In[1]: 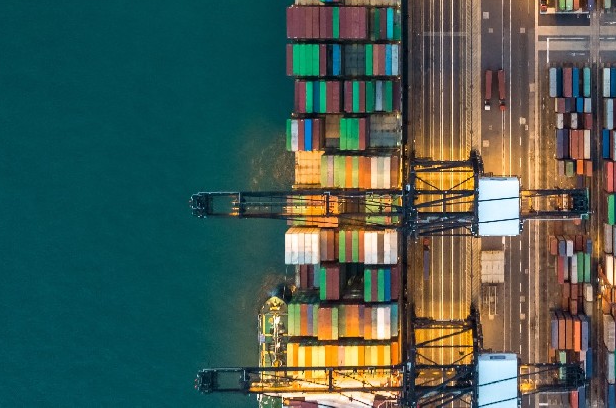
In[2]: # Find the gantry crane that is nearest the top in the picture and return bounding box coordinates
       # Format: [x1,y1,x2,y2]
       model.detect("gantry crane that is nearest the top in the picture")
[186,142,597,238]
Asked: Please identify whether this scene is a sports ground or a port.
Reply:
port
